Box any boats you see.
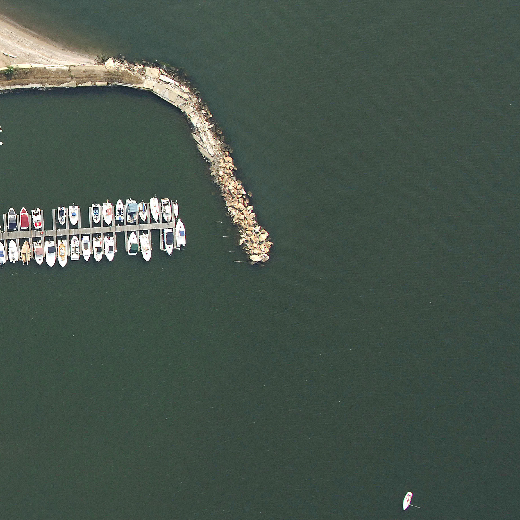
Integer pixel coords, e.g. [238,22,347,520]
[160,198,172,224]
[57,205,65,226]
[128,232,138,255]
[69,203,78,226]
[103,201,113,226]
[58,237,68,267]
[70,235,80,260]
[7,207,17,232]
[151,198,161,223]
[172,201,179,217]
[91,202,100,223]
[33,239,43,265]
[45,239,56,267]
[139,233,151,261]
[32,207,42,229]
[126,197,137,223]
[20,241,31,264]
[19,207,28,229]
[402,492,425,515]
[8,240,18,265]
[164,229,175,256]
[138,201,147,222]
[115,199,123,223]
[93,235,102,262]
[0,242,6,266]
[104,235,114,261]
[82,236,90,262]
[175,218,185,249]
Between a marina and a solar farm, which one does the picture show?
marina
